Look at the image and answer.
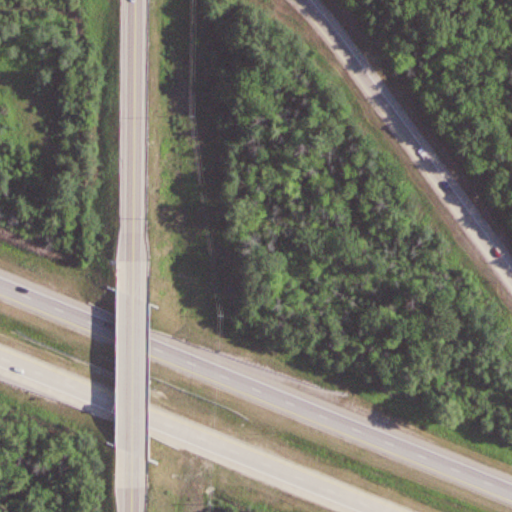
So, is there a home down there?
No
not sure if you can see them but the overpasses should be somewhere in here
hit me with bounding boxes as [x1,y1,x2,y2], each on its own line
[107,261,158,488]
